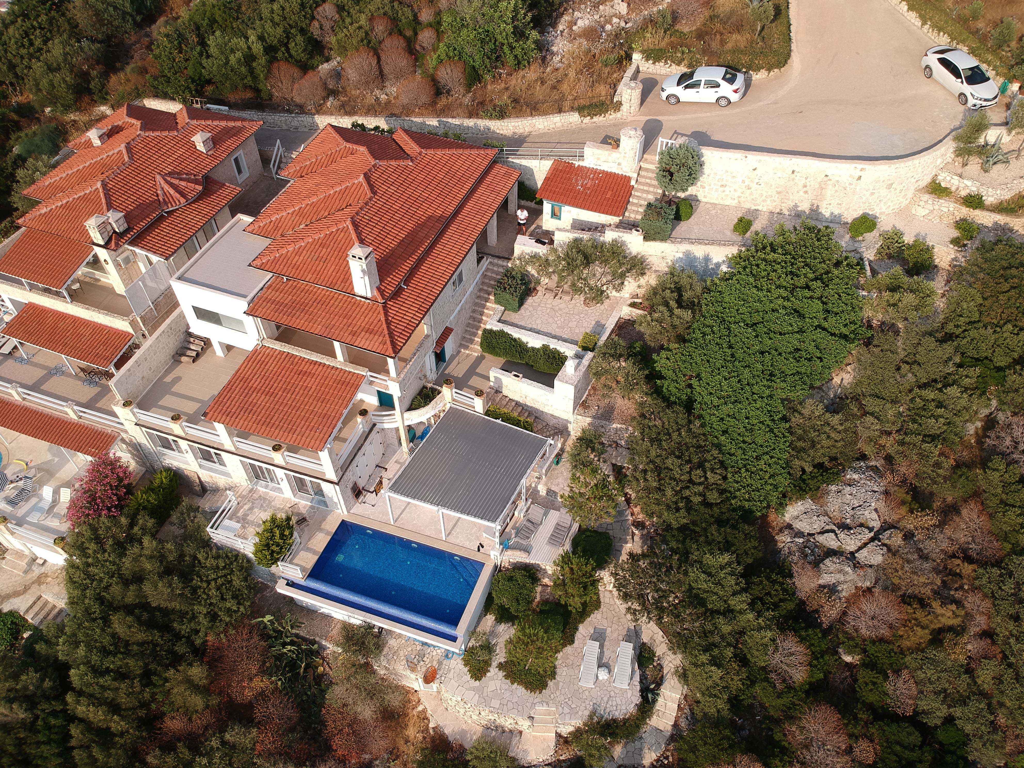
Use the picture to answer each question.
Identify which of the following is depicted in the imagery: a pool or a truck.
pool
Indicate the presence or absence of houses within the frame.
Yes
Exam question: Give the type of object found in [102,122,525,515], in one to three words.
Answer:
house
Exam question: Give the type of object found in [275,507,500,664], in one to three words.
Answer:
swimming pool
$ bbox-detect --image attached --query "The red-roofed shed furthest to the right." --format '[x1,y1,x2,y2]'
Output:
[533,165,632,231]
